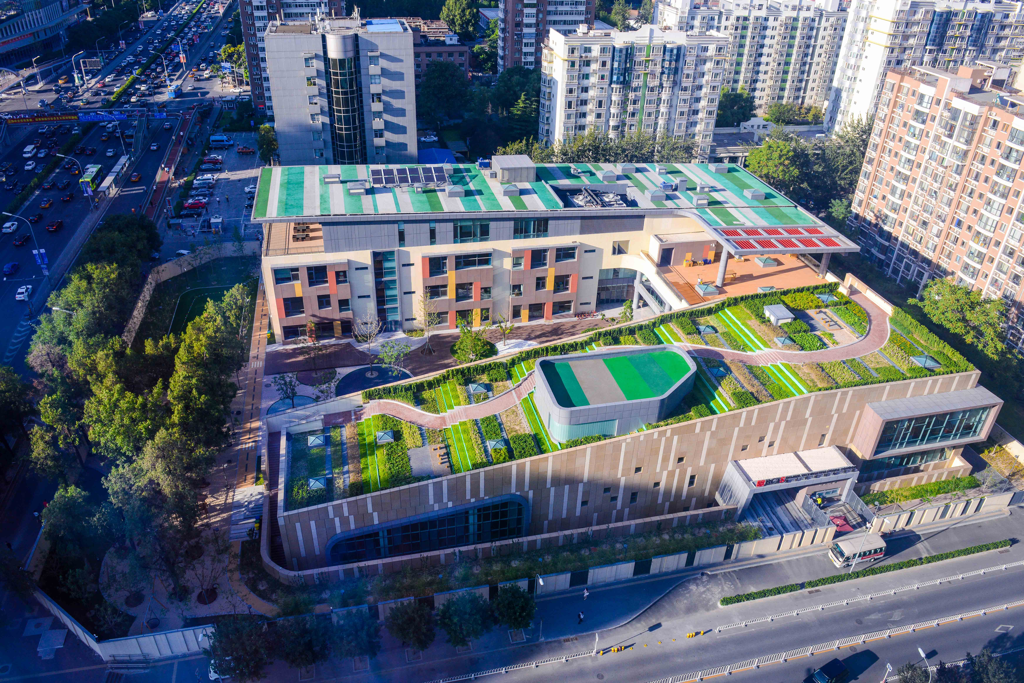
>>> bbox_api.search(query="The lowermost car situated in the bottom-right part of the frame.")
[801,650,855,683]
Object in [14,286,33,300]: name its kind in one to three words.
car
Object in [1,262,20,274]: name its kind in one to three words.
vehicle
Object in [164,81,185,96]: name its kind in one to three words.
vehicle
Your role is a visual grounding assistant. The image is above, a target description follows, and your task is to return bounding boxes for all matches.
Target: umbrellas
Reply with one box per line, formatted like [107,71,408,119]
[830,518,856,541]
